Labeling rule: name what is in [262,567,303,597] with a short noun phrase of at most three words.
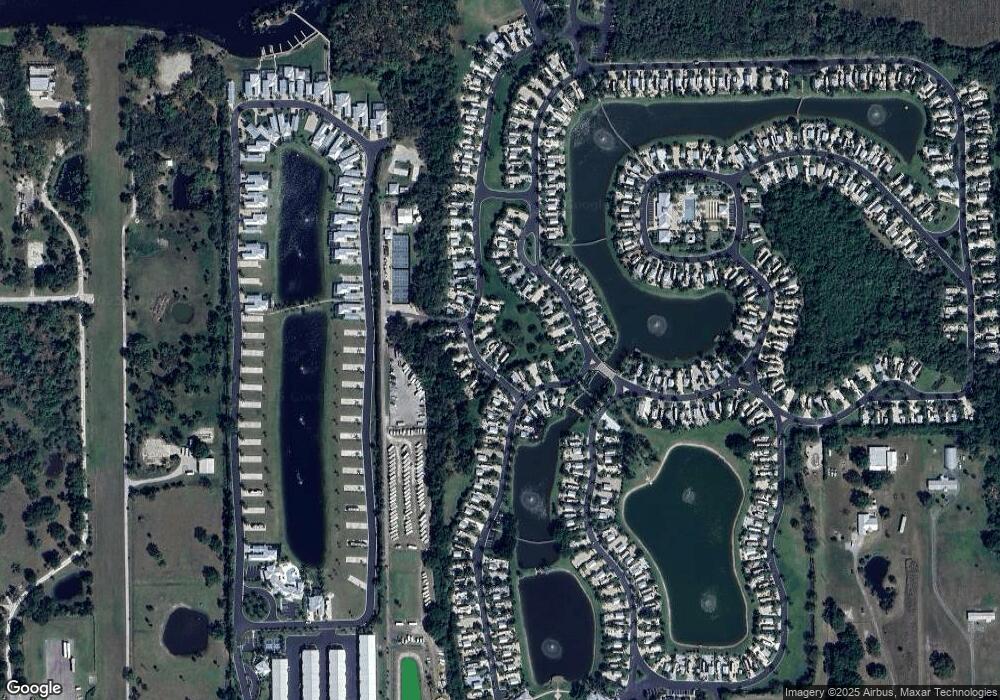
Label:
building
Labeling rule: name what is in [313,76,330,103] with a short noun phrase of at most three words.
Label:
house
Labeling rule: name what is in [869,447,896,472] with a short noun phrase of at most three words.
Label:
barn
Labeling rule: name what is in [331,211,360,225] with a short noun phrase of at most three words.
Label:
house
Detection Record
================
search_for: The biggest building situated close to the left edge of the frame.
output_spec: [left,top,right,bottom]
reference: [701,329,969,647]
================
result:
[29,64,54,92]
